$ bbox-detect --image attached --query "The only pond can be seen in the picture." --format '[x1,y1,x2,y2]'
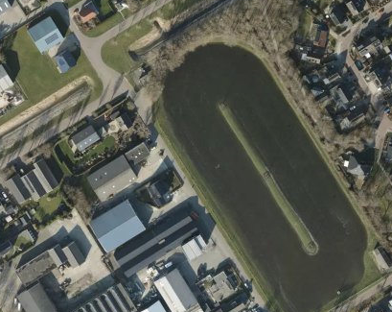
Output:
[165,47,364,312]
